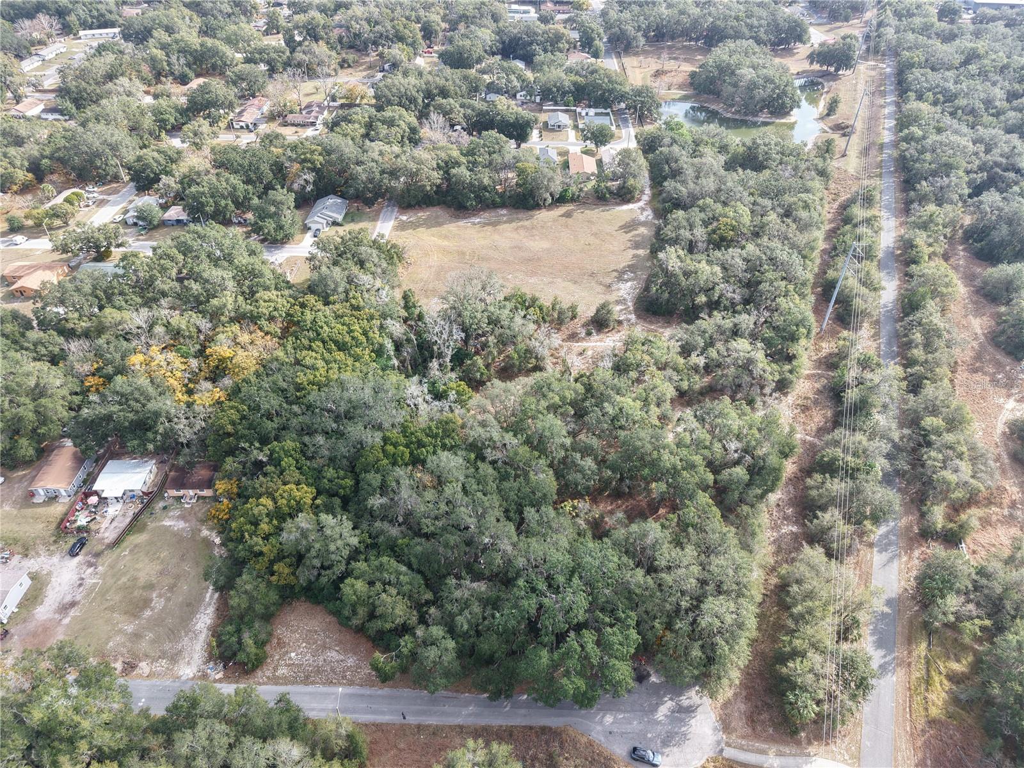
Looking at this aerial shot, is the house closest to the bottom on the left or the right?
left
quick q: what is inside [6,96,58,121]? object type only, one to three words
house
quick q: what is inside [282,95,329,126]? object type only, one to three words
house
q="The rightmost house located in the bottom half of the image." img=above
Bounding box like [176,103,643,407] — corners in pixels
[156,457,226,508]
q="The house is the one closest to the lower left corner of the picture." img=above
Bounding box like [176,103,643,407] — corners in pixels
[0,573,31,625]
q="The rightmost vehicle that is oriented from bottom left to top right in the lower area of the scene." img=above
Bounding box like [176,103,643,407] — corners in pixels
[62,536,89,560]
